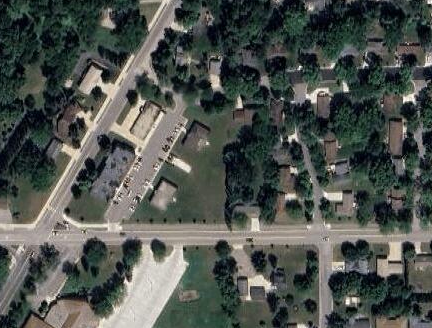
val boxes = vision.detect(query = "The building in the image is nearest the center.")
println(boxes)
[184,122,208,150]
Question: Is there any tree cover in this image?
Yes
